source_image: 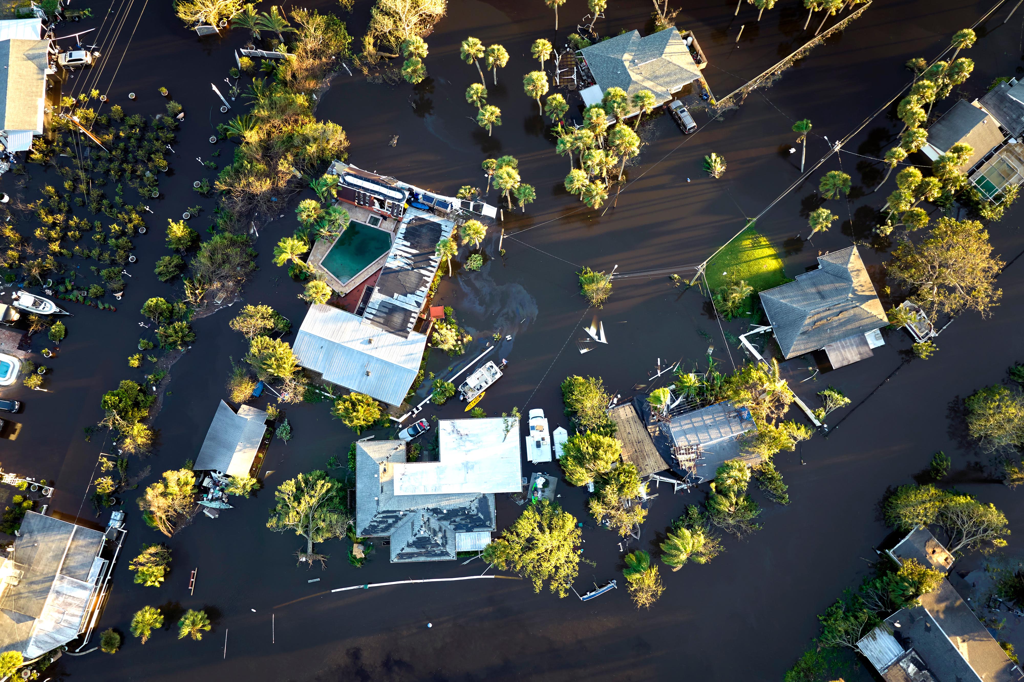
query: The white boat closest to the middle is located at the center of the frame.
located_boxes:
[458,356,504,402]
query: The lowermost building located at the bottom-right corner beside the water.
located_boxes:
[850,577,1024,682]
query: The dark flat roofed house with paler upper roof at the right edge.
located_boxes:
[971,77,1024,145]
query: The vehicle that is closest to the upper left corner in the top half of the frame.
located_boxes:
[61,50,95,66]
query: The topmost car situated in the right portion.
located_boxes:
[667,101,697,135]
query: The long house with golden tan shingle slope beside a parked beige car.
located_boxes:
[0,18,61,158]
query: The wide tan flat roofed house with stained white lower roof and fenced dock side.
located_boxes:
[0,510,120,659]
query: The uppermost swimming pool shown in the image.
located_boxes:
[307,200,402,296]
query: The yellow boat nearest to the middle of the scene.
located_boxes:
[465,392,485,412]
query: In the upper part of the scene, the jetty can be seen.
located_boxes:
[552,53,577,86]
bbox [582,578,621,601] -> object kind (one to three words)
boat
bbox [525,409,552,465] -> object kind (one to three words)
camper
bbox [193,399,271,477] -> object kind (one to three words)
house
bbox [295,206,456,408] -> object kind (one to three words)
house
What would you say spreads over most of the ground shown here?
water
